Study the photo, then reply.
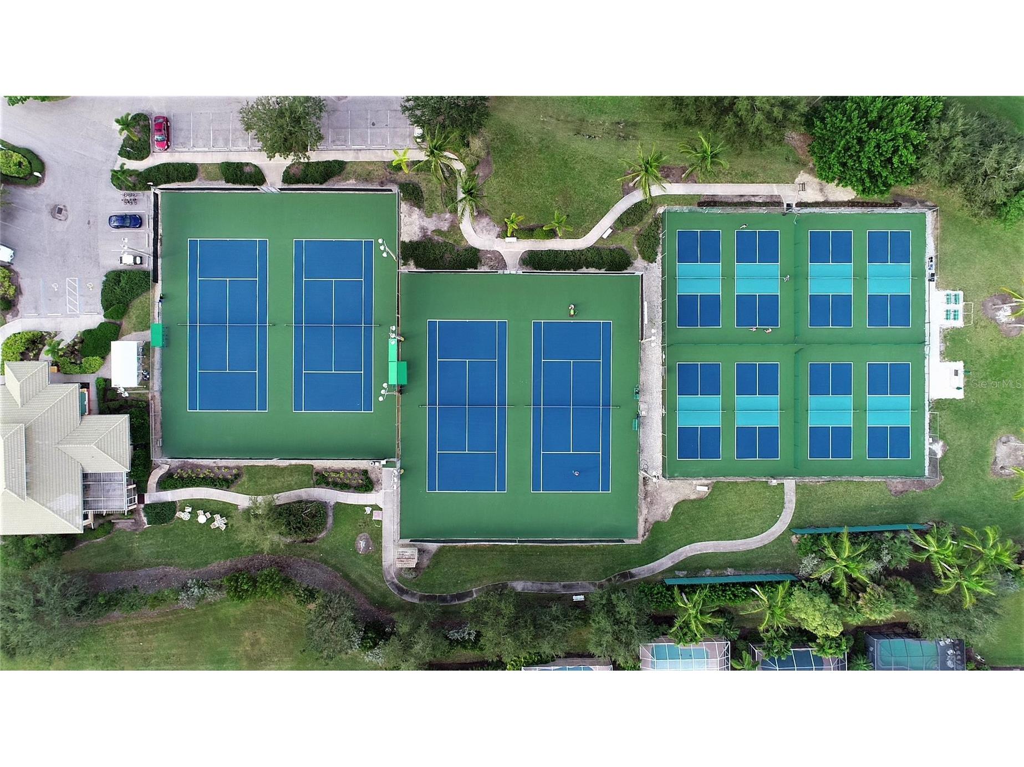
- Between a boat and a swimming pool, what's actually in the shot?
swimming pool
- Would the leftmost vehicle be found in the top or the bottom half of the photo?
top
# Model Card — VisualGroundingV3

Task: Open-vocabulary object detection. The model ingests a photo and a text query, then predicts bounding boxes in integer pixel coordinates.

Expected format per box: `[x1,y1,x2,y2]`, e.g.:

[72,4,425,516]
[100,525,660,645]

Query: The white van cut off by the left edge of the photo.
[0,243,24,264]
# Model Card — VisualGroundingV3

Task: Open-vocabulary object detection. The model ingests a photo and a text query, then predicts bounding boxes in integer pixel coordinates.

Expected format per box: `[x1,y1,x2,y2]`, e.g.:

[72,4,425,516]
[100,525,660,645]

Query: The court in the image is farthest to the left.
[161,192,280,459]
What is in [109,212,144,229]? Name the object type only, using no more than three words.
car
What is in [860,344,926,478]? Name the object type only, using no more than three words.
sports court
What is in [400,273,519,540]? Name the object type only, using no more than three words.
tennis court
